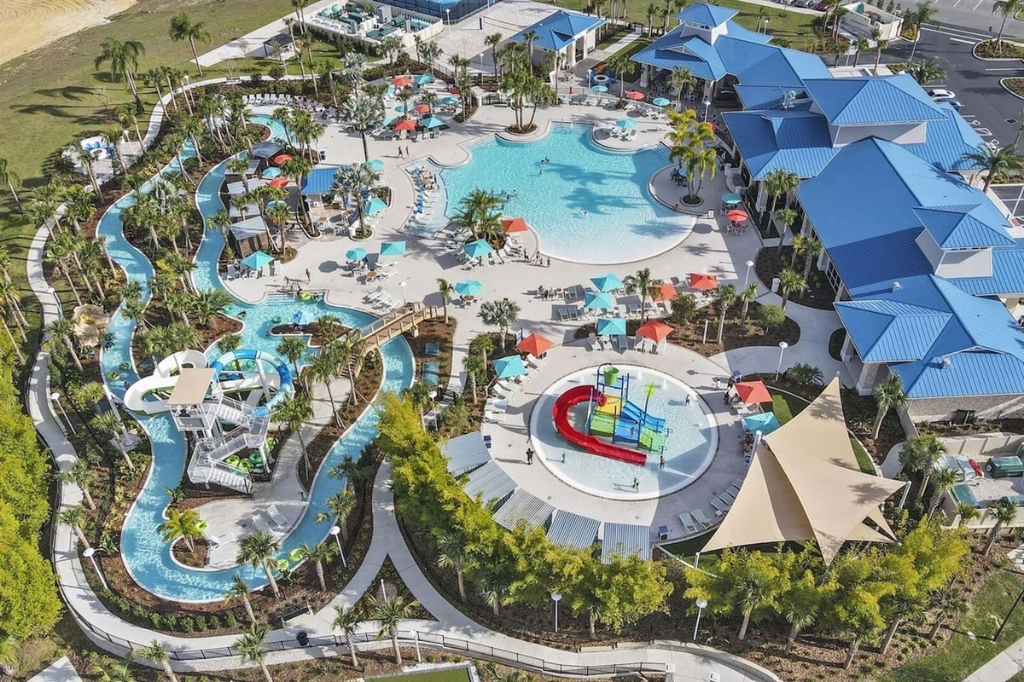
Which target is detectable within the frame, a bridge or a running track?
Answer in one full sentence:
Of the two, only a bridge appears.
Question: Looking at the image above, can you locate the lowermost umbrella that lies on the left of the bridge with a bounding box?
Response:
[288,308,314,339]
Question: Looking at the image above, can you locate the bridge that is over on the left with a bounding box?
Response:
[333,292,449,380]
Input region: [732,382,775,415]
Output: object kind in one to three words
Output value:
umbrella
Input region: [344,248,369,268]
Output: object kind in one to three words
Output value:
umbrella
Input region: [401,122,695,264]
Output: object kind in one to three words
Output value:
swimming pool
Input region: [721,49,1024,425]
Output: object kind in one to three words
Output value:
building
